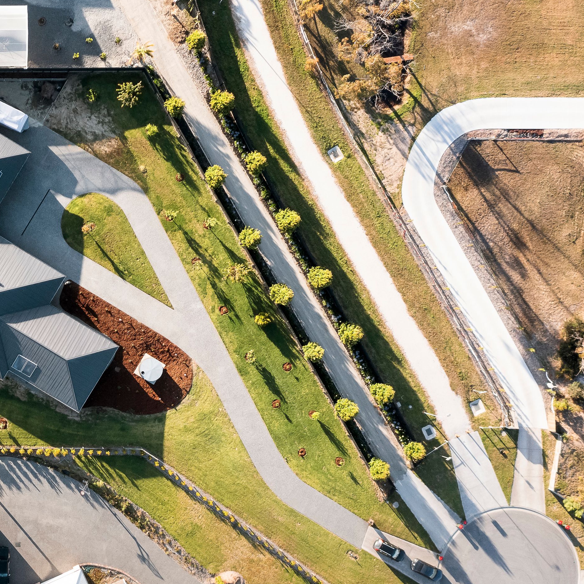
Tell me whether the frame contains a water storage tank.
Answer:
Yes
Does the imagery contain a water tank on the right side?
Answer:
No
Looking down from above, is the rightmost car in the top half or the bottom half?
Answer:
bottom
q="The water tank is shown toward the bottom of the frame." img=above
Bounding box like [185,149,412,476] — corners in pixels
[134,353,165,385]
